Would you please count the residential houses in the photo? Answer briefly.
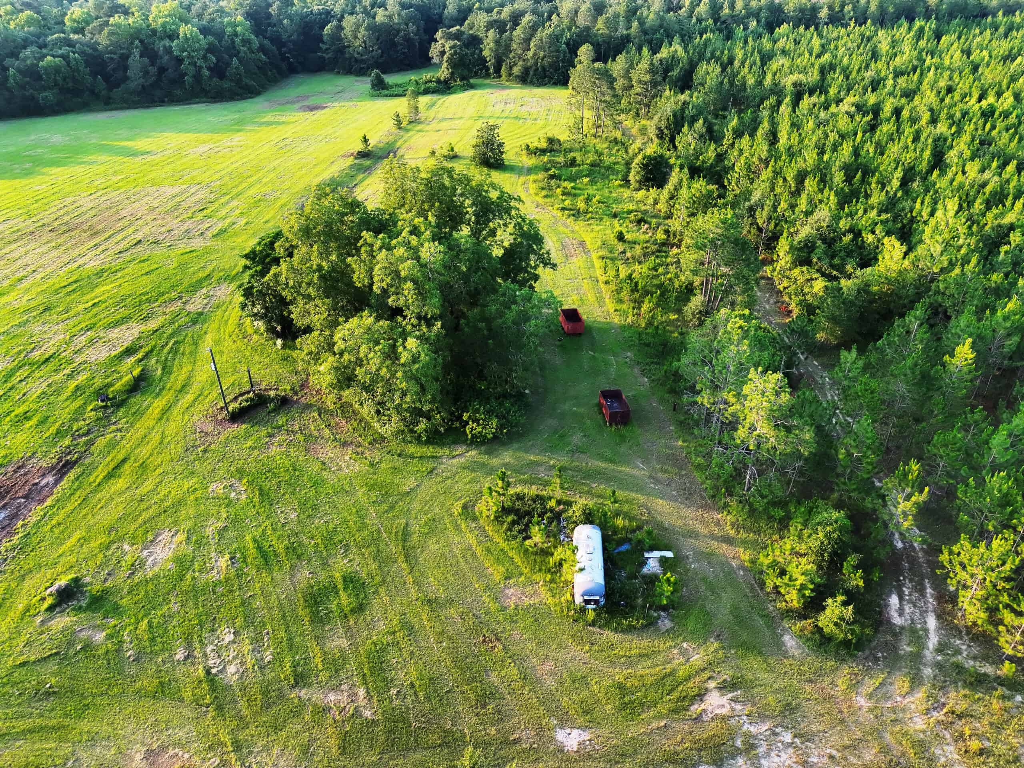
0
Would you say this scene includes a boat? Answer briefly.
No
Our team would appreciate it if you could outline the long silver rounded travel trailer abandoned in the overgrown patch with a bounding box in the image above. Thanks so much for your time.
[572,521,605,618]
